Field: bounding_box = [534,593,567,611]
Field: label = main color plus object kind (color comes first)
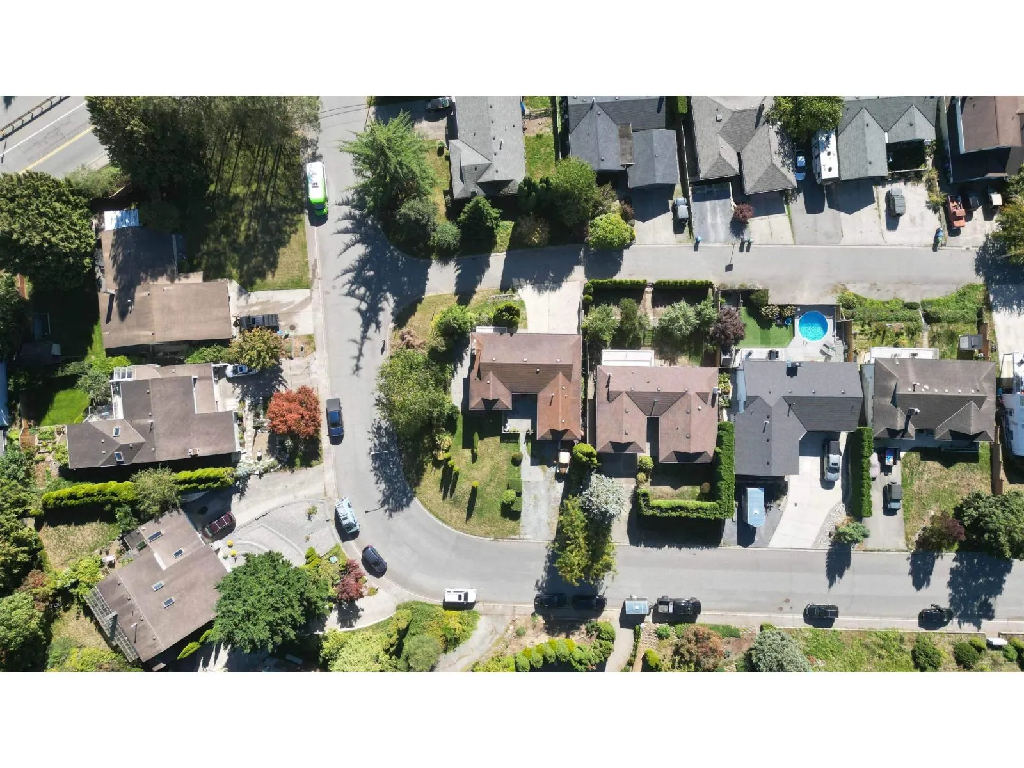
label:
black car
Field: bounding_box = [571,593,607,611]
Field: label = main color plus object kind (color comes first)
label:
black car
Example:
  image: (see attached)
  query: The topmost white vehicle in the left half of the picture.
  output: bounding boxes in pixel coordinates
[304,161,331,221]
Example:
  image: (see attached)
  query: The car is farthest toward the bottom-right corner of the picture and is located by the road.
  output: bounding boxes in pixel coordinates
[915,600,951,624]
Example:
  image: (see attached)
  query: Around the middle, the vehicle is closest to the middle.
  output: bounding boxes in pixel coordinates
[556,446,570,476]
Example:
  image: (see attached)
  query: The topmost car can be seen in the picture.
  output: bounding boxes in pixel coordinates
[421,93,454,114]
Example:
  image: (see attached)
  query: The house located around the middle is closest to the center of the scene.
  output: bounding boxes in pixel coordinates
[469,327,583,441]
